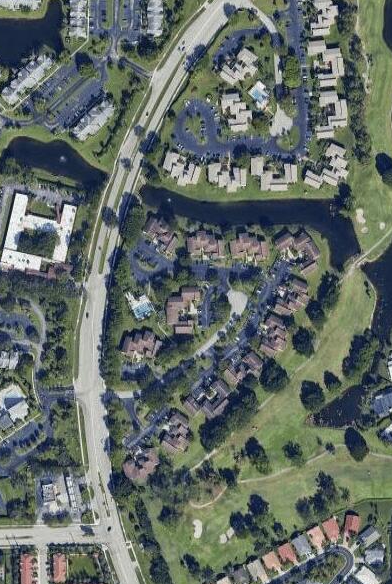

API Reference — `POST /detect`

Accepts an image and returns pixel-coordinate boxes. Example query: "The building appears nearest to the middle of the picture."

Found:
[166,284,201,335]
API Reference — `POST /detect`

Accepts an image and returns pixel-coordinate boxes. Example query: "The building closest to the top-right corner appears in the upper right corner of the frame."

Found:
[311,0,339,36]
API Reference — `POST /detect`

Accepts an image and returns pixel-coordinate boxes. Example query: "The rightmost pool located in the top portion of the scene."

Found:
[249,86,270,106]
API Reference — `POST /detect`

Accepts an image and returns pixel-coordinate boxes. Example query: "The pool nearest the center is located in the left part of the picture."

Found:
[126,294,154,320]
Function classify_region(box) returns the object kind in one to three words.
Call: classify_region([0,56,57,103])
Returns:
building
